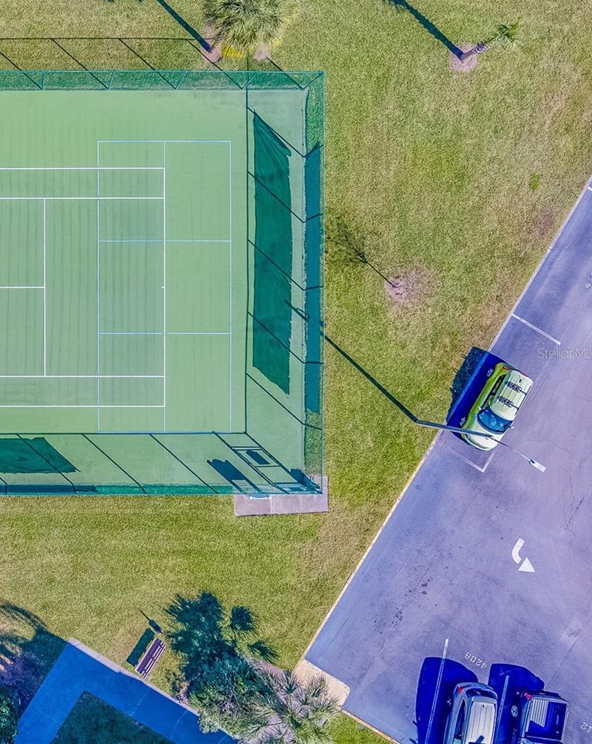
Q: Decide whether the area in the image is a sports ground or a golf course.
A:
sports ground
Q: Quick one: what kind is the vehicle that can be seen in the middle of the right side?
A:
car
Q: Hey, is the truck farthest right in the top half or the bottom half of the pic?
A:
bottom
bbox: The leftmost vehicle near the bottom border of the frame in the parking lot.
[441,681,503,744]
